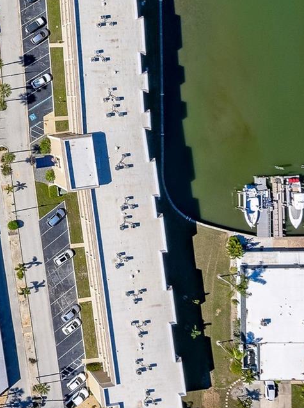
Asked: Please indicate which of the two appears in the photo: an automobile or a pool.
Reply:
automobile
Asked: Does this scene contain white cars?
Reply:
Yes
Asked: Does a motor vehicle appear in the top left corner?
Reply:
Yes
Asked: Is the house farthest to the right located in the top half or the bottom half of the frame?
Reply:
bottom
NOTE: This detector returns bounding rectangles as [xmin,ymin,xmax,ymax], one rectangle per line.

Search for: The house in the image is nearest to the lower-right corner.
[233,249,304,380]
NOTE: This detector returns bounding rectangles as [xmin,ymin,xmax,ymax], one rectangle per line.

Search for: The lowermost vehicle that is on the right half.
[263,380,276,402]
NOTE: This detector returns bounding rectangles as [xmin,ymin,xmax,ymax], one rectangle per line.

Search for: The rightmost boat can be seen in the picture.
[287,176,304,227]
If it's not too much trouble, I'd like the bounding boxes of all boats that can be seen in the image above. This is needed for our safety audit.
[287,176,304,227]
[245,185,261,228]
